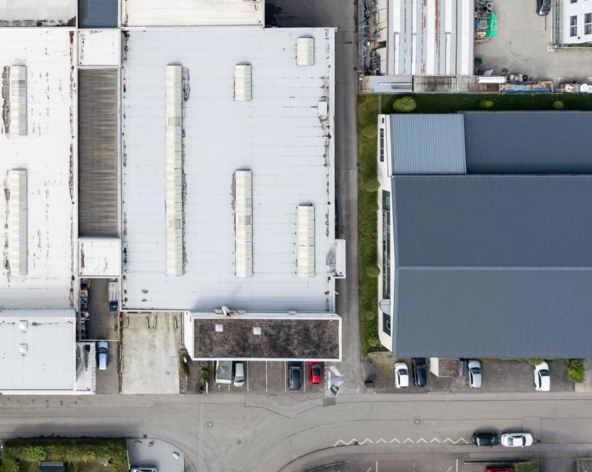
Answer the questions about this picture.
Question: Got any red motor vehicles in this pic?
Yes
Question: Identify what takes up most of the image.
buildings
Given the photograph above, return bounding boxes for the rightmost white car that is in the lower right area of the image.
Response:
[531,359,552,394]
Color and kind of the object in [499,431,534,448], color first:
white car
